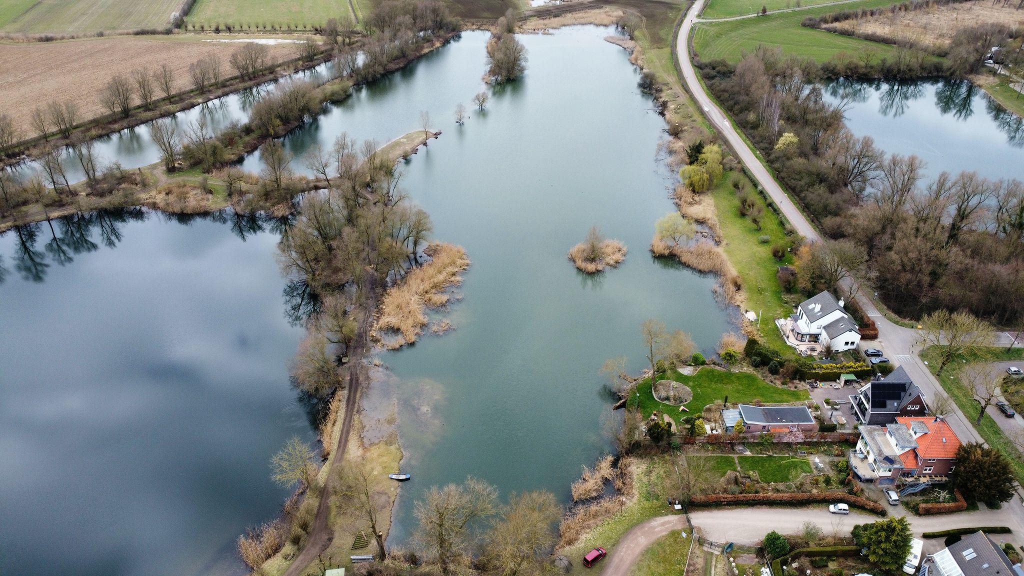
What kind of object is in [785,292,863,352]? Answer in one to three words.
house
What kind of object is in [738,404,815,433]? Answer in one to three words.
shed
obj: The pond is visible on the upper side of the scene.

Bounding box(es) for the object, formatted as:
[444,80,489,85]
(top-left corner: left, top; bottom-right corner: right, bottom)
[784,77,1024,218]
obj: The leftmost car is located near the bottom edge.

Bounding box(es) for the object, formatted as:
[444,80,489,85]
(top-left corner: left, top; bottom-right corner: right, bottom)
[582,549,606,568]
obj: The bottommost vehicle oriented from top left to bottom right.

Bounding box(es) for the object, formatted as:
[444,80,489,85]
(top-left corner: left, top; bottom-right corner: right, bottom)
[880,489,903,509]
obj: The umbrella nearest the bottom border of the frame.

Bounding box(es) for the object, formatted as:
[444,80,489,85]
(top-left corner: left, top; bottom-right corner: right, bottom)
[553,557,571,571]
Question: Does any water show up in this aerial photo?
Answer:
Yes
